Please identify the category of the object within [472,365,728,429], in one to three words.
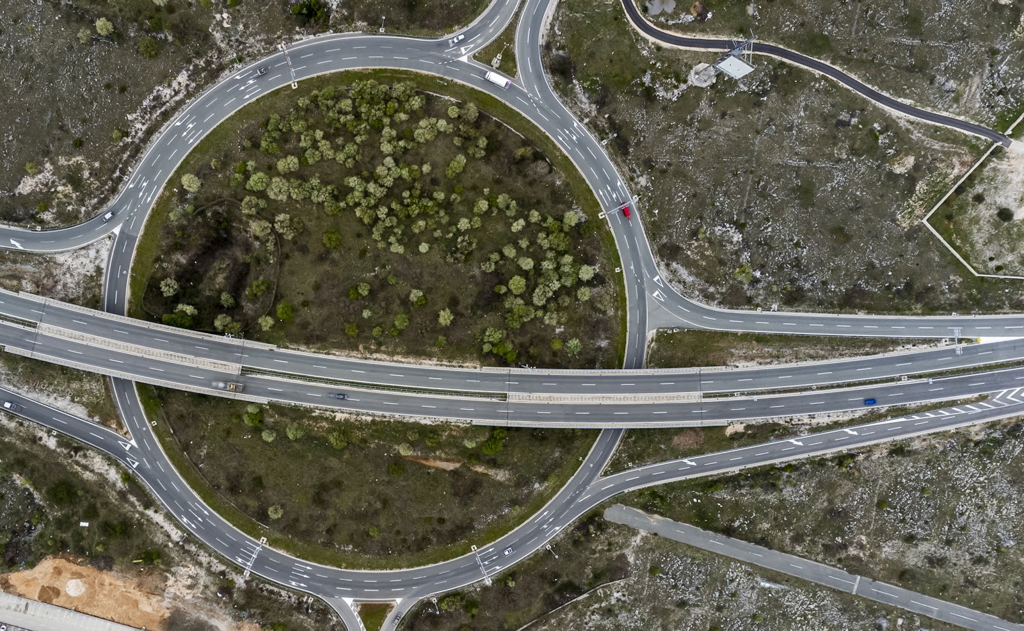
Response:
bridge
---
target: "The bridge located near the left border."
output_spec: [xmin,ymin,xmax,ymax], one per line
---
[4,290,276,404]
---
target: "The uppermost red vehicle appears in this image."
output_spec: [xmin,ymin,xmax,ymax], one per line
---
[619,202,631,221]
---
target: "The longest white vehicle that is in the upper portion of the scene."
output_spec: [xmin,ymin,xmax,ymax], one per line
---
[483,72,511,91]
